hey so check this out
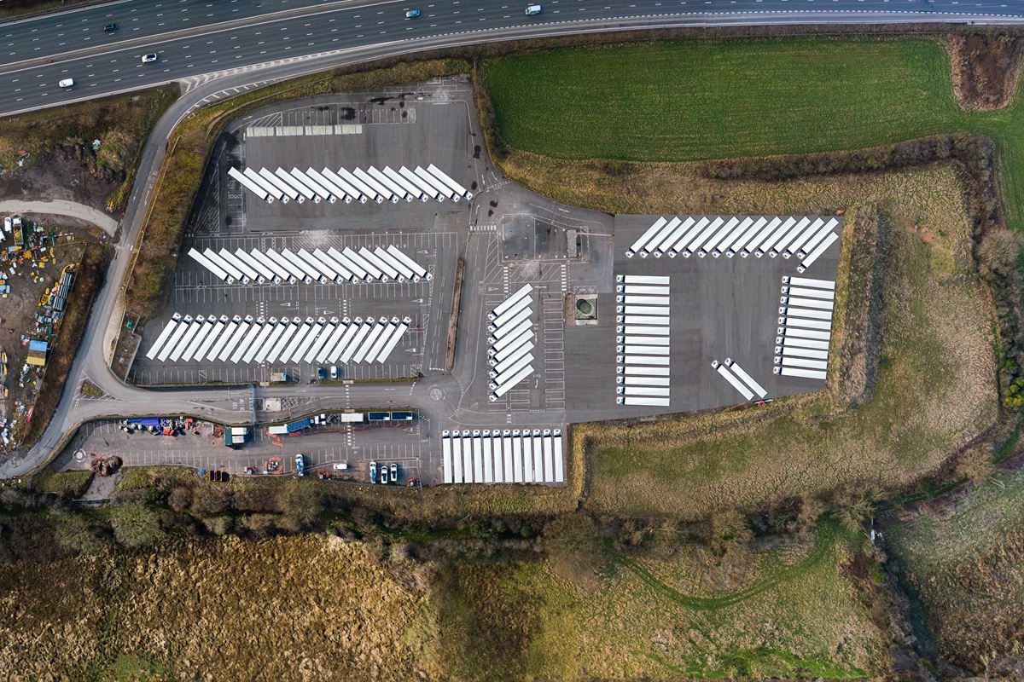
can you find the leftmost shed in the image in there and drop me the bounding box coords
[27,339,49,365]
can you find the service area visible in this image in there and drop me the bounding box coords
[51,74,841,503]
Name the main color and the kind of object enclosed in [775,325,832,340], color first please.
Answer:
white vehicle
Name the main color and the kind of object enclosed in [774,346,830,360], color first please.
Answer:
white vehicle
